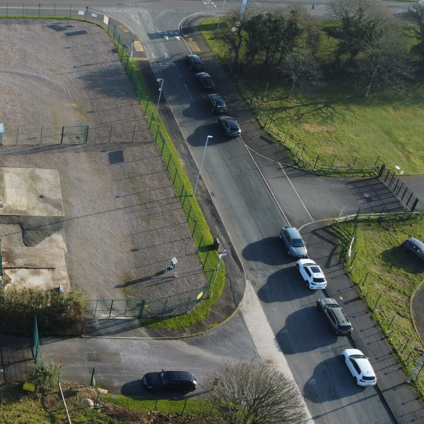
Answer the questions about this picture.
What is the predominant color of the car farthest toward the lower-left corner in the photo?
black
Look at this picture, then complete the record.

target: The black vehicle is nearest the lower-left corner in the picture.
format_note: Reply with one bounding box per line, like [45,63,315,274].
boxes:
[142,370,199,397]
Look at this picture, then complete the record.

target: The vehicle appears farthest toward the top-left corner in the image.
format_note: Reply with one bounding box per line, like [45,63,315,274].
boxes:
[184,57,203,73]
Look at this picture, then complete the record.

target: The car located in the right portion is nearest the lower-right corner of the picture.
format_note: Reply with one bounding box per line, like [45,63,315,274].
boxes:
[340,350,379,391]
